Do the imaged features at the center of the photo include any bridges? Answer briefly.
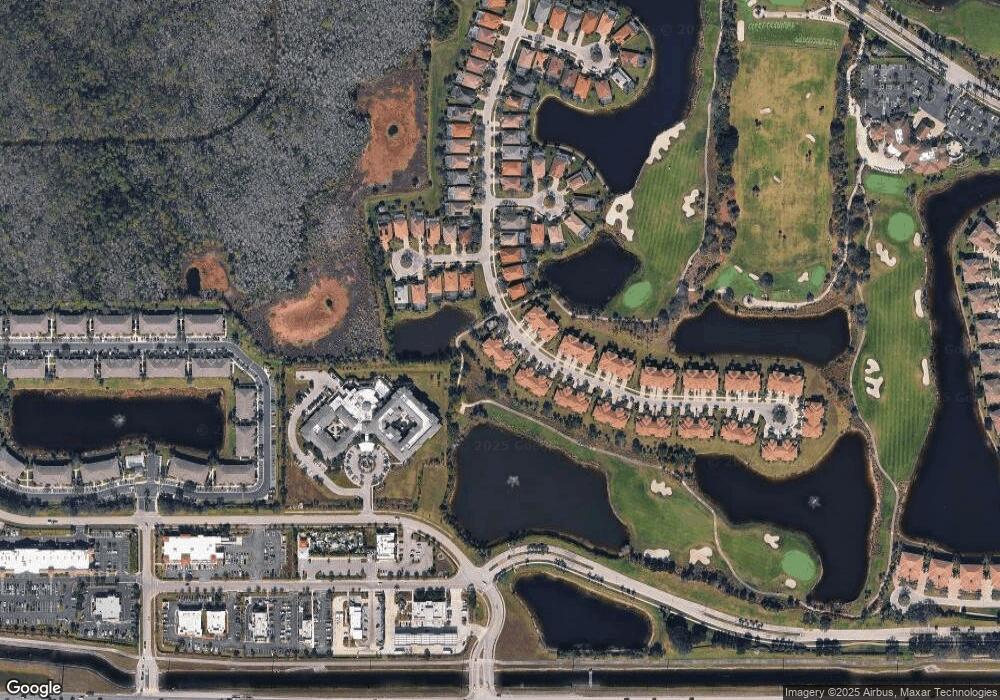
No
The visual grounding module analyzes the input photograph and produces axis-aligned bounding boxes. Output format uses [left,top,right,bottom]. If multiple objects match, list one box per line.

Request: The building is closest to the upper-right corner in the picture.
[870,119,962,172]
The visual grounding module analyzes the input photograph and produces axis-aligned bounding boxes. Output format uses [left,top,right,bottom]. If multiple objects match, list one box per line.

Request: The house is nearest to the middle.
[482,337,519,370]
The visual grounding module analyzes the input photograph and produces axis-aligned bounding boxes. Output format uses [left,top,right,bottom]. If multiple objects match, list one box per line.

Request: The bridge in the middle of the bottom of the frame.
[469,666,494,691]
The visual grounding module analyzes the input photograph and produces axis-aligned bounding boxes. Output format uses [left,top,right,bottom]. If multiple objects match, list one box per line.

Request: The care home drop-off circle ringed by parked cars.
[342,441,391,488]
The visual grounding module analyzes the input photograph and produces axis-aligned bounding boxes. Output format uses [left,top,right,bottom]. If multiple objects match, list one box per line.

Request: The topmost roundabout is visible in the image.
[581,39,616,73]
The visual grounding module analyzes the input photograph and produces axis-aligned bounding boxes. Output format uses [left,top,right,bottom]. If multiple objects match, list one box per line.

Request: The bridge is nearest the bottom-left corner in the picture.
[136,666,159,691]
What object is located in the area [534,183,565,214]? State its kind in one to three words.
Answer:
roundabout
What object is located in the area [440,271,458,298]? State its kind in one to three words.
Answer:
house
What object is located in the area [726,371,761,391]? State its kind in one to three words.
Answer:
house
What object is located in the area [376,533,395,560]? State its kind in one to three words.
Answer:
building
